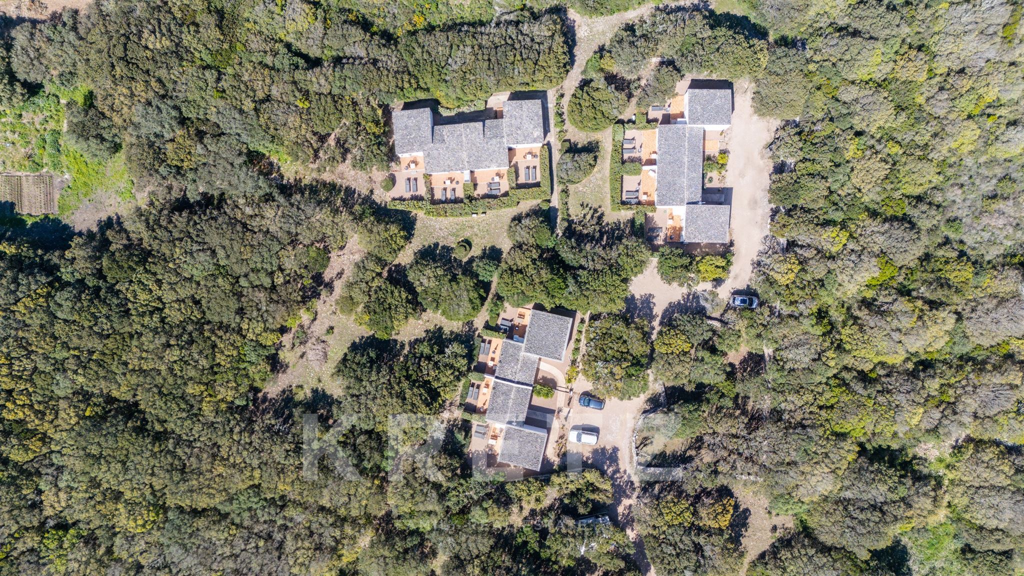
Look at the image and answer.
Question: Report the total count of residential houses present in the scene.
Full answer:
The count of residential houses comes to 3.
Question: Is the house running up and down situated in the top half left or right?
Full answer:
You can find the house running up and down situated in the top half on the right side of the picture.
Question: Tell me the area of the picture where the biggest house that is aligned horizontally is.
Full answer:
The biggest house that is aligned horizontally sits in the top section of the image.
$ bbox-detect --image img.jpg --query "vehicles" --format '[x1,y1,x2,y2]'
[568,430,598,445]
[730,295,759,309]
[577,395,605,410]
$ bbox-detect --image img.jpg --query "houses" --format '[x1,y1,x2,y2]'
[392,100,544,175]
[653,89,731,244]
[485,310,573,471]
